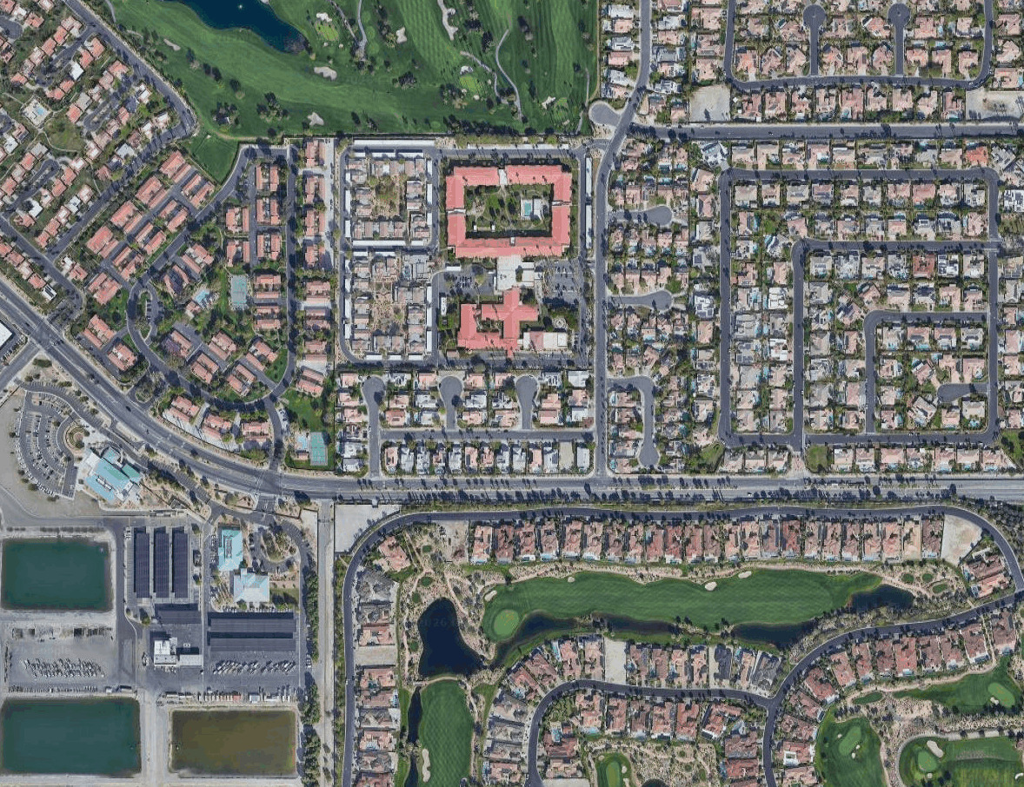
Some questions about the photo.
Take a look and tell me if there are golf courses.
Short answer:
Yes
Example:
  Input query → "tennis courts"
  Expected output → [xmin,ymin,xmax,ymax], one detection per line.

[310,431,327,465]
[231,274,247,309]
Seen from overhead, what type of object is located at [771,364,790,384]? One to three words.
house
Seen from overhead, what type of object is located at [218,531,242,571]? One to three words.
building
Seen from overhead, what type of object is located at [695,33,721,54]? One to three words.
house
